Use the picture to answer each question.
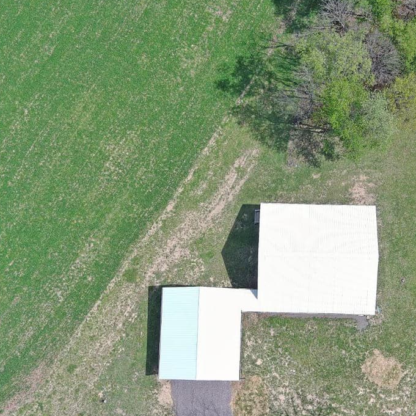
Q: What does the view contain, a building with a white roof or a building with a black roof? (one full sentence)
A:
This aerial view contains a building with a white roof.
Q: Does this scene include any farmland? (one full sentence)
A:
Yes, there is farmland in the image.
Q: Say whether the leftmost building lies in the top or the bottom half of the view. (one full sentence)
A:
You can find the leftmost building in the bottom half.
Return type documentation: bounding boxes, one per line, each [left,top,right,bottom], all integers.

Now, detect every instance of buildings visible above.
[157,287,243,382]
[258,203,379,317]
